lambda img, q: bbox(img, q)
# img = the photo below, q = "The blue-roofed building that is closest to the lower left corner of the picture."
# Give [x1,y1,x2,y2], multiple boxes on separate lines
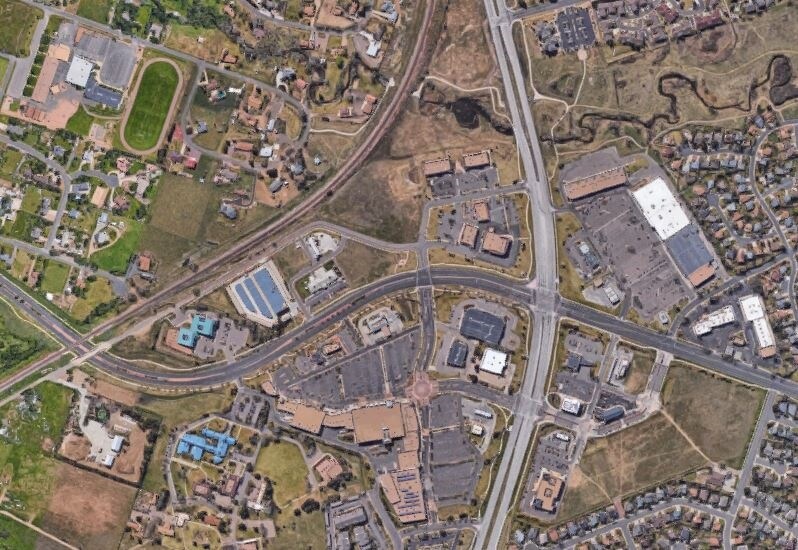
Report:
[175,428,235,464]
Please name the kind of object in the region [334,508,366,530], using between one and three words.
building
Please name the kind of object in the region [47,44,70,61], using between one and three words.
building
